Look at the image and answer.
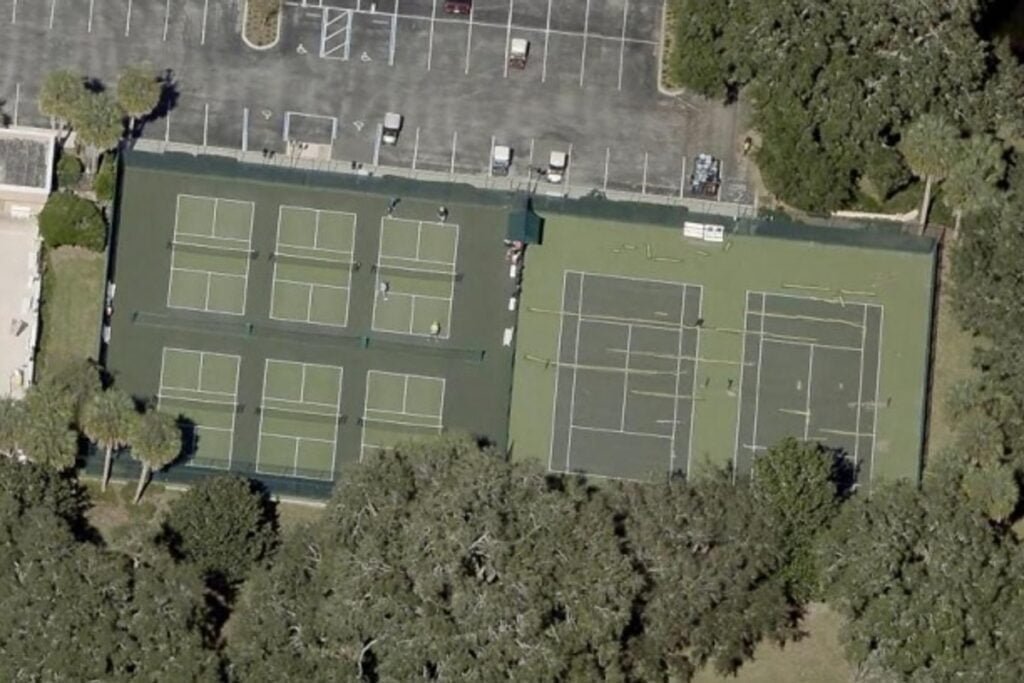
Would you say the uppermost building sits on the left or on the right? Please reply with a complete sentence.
The uppermost building sits on the left side.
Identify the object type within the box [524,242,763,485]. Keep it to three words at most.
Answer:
tennis court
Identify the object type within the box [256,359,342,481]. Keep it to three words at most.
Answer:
sports court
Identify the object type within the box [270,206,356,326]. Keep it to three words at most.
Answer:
sports court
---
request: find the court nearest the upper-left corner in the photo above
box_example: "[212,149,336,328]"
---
[168,195,254,315]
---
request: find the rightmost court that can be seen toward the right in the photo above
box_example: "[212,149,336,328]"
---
[734,282,887,505]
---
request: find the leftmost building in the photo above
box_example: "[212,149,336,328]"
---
[0,127,55,220]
